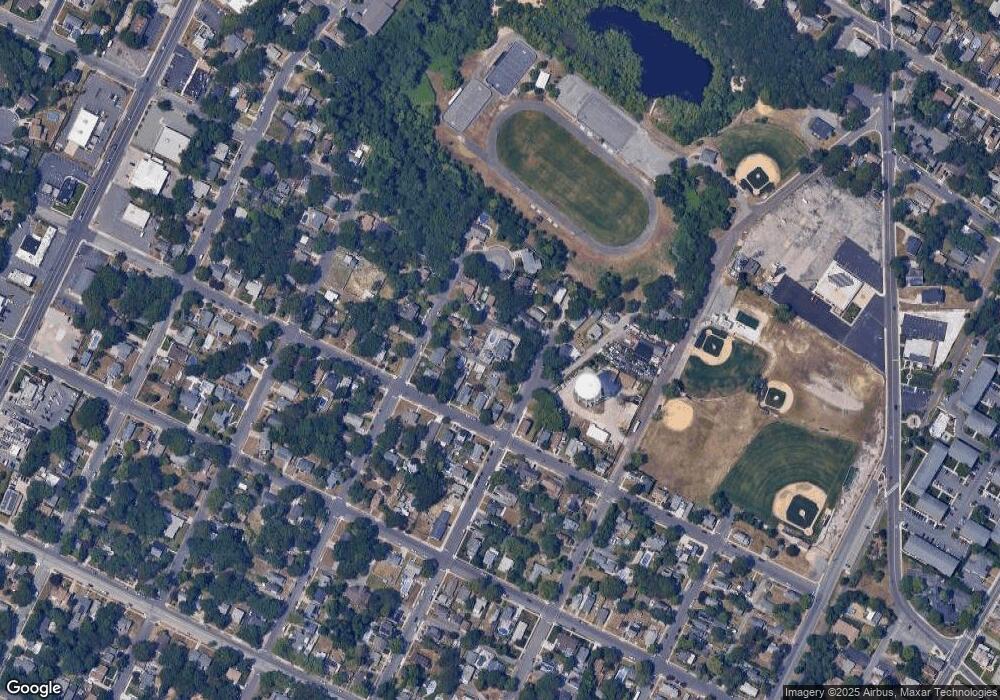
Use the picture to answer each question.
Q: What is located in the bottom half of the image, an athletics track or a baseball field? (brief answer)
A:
baseball field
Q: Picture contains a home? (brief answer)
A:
Yes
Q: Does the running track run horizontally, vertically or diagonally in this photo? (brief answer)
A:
diagonally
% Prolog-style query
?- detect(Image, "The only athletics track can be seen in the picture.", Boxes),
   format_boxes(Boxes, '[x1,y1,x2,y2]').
[486,99,658,258]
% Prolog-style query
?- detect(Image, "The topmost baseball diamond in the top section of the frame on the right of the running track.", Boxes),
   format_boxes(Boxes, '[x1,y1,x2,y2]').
[721,117,809,206]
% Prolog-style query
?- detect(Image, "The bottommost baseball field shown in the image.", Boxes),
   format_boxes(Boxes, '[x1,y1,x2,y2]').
[714,420,858,539]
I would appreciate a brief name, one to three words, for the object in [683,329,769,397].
baseball field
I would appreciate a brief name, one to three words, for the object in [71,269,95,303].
building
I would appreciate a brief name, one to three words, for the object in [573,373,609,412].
water tower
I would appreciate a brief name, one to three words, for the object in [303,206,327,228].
house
